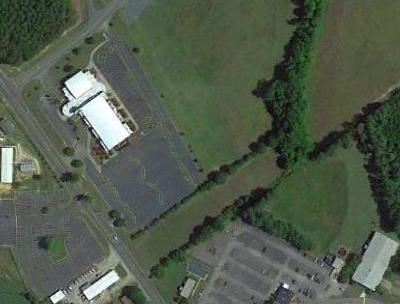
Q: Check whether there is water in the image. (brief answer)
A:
No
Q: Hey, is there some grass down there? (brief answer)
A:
Yes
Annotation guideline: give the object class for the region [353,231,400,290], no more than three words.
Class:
barn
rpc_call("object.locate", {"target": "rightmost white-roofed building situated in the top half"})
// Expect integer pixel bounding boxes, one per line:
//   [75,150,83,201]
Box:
[61,71,132,151]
